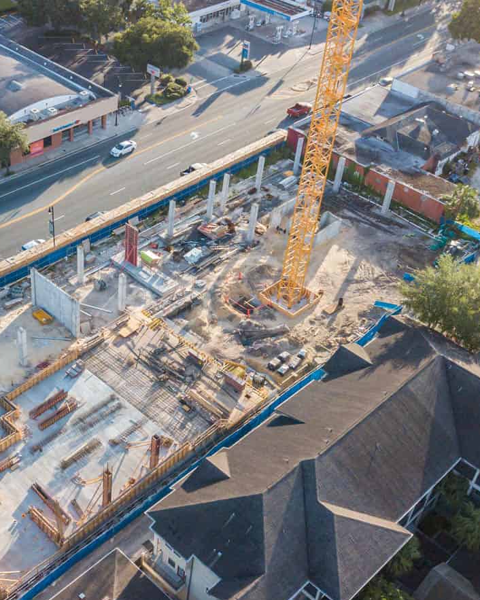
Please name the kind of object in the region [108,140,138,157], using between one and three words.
car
